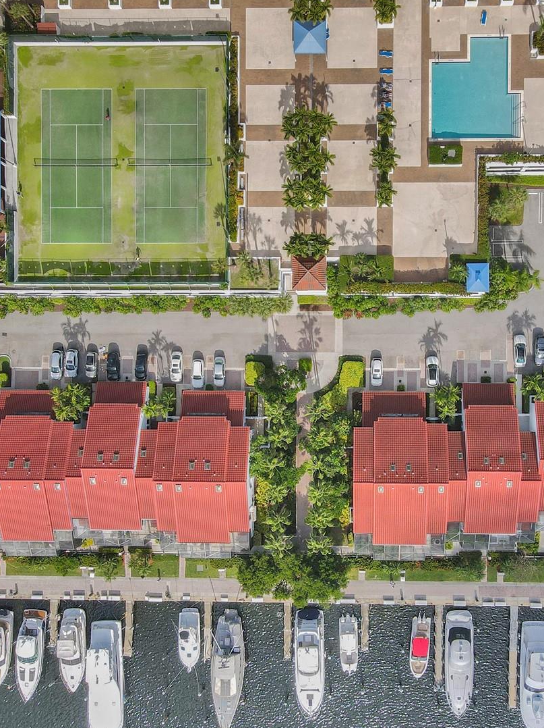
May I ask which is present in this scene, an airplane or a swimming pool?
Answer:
swimming pool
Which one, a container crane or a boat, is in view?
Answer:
boat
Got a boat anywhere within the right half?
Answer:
Yes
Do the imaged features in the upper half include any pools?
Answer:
Yes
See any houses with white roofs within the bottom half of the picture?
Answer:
No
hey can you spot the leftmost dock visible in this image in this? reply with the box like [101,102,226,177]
[45,601,63,650]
